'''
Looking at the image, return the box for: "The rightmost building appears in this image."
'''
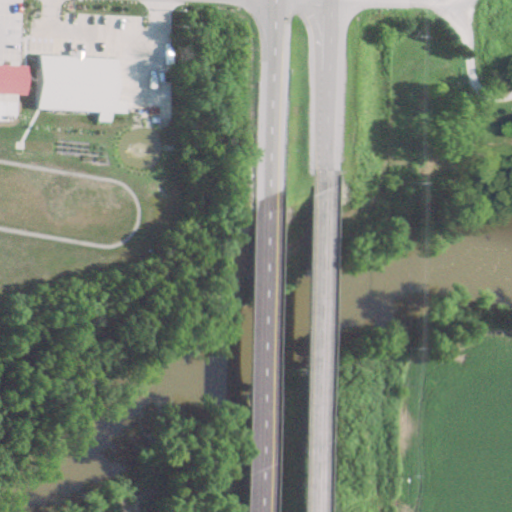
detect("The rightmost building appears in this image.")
[38,56,127,122]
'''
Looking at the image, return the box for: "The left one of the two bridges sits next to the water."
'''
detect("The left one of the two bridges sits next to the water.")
[250,192,288,512]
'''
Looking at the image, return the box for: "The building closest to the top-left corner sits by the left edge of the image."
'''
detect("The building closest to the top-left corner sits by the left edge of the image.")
[0,66,31,95]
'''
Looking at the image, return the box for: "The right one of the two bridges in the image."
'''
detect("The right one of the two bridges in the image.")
[308,174,341,512]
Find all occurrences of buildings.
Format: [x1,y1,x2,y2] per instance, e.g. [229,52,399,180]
[0,66,31,95]
[0,96,20,122]
[38,56,127,122]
